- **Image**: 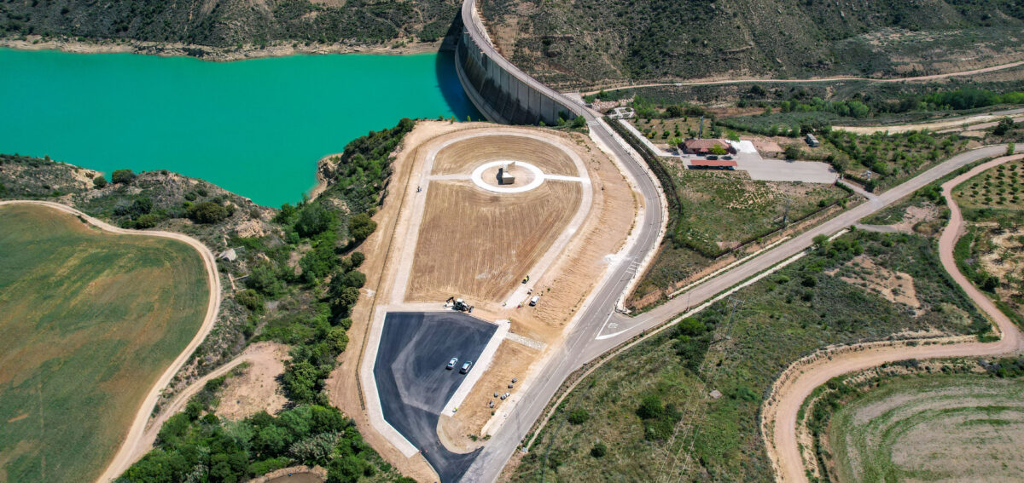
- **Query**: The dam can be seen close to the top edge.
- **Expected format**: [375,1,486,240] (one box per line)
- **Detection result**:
[457,0,597,127]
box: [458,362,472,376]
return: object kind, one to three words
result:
car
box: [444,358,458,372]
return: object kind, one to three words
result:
car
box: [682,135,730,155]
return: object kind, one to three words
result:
house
